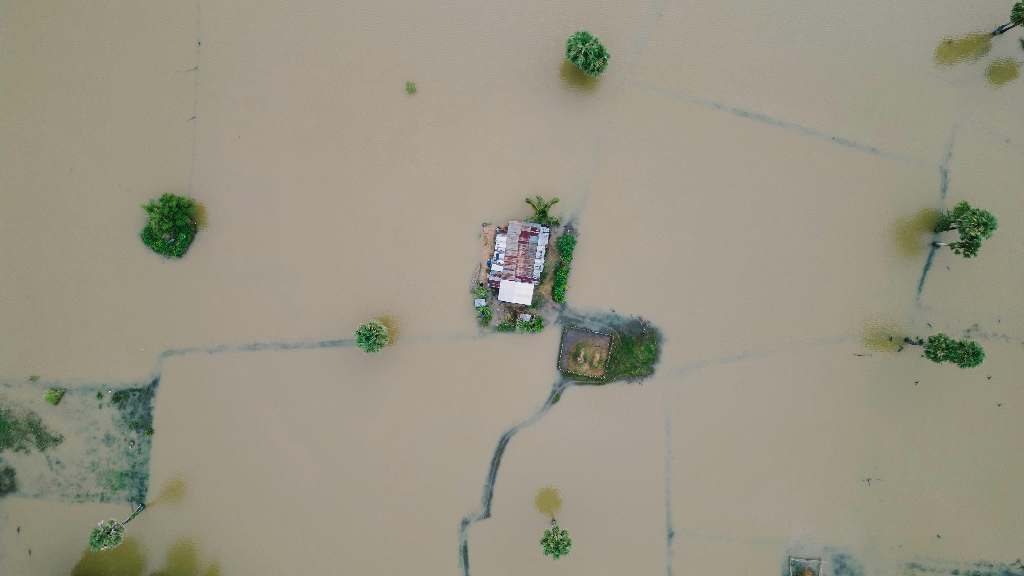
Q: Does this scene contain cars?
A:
No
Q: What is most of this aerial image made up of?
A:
water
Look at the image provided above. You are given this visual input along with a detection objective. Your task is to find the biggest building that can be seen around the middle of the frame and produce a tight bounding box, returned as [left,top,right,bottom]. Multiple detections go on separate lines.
[487,221,549,305]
